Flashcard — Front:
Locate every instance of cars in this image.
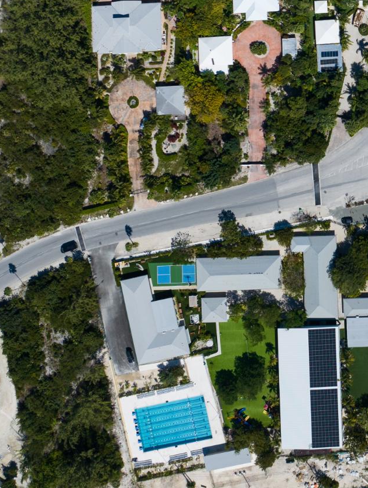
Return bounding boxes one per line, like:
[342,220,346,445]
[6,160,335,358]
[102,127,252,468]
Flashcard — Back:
[126,347,134,361]
[62,241,77,251]
[341,217,353,223]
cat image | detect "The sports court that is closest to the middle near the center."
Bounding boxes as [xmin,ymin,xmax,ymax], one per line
[149,262,198,287]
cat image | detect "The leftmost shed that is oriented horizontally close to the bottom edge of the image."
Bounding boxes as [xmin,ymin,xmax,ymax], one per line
[203,446,254,471]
